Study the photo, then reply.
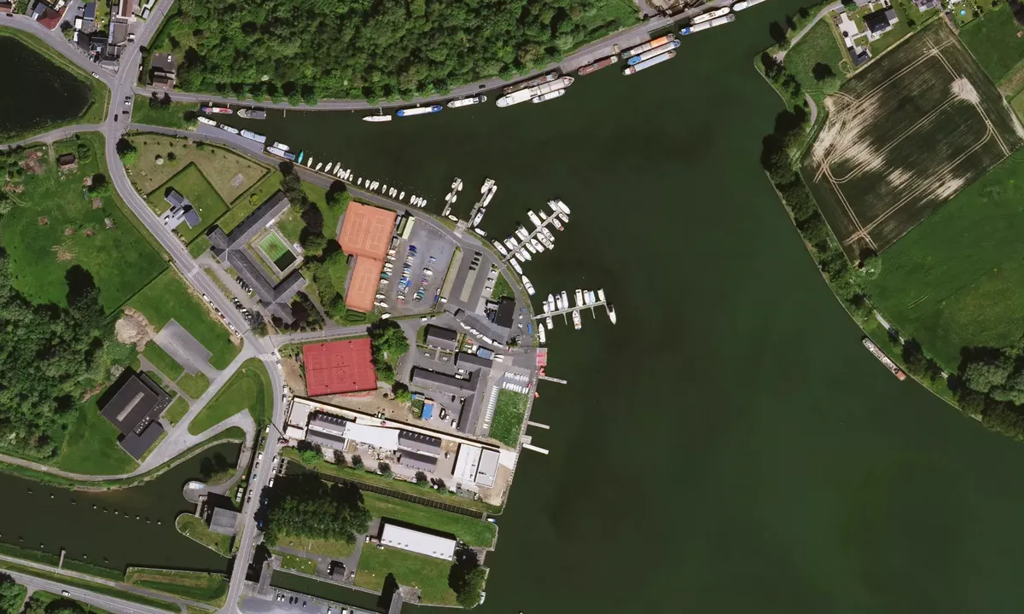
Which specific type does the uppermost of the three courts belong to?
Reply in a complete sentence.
I'd identify the uppermost of the three courts as a tennis court.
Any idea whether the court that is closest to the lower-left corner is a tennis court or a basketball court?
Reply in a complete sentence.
Specifically, the court that is closest to the lower-left corner is a tennis court.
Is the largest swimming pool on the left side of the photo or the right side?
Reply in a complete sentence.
You can find the largest swimming pool on the left side of the picture.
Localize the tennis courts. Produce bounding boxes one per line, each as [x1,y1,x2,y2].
[339,201,397,261]
[347,258,383,312]
[303,338,377,396]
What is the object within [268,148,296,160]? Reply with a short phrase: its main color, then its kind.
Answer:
white boat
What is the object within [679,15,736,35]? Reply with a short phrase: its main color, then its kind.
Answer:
white ship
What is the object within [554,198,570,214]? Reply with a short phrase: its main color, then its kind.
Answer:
white boat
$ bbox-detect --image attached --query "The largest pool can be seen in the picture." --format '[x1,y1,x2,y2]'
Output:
[252,226,304,278]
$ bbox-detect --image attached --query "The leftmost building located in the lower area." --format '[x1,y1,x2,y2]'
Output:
[99,374,171,460]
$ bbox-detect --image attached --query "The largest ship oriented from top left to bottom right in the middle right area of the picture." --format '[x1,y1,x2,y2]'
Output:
[862,339,907,380]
